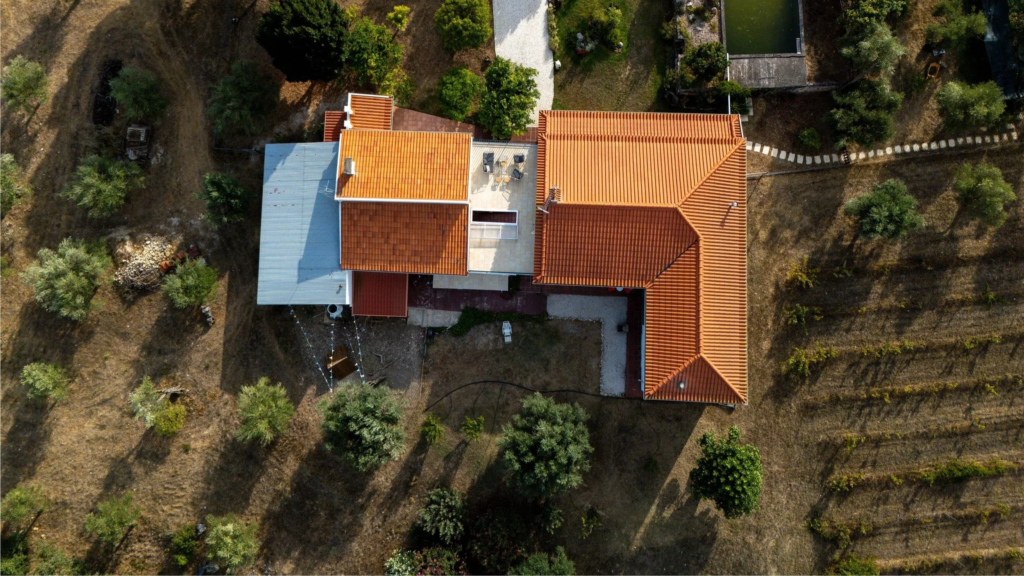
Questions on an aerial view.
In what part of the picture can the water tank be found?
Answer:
top right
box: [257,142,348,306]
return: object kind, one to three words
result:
shed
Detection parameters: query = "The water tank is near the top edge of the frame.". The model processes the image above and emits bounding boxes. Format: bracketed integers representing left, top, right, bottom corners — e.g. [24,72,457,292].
[718,0,805,61]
